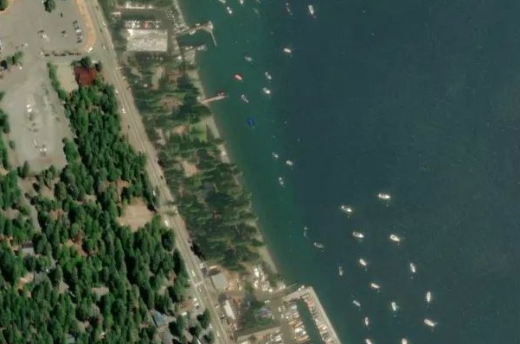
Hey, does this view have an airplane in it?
No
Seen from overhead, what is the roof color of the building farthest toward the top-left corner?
red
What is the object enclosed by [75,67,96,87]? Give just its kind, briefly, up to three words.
building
